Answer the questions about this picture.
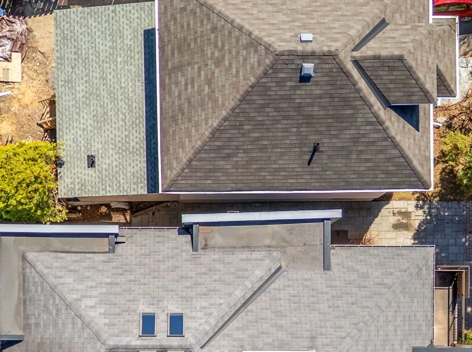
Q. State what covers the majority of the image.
buildings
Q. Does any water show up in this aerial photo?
No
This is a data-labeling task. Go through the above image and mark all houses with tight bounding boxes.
[0,209,472,352]
[153,0,460,200]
